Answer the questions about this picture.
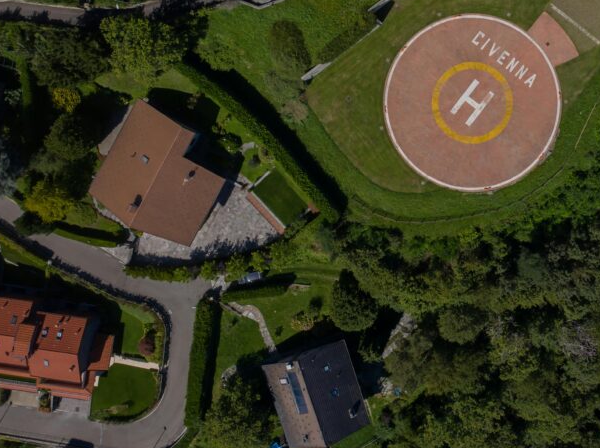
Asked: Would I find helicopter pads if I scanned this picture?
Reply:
Yes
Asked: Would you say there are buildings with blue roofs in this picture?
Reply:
No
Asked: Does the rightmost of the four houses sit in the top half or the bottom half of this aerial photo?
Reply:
bottom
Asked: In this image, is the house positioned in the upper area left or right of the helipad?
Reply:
to the left of it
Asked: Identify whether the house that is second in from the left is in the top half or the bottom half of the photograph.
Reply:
bottom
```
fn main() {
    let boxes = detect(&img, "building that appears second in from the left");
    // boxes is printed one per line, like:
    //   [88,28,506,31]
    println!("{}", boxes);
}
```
[30,304,121,399]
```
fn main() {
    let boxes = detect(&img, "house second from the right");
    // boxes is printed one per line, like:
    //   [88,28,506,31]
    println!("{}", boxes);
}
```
[90,99,228,246]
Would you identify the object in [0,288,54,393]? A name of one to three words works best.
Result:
house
